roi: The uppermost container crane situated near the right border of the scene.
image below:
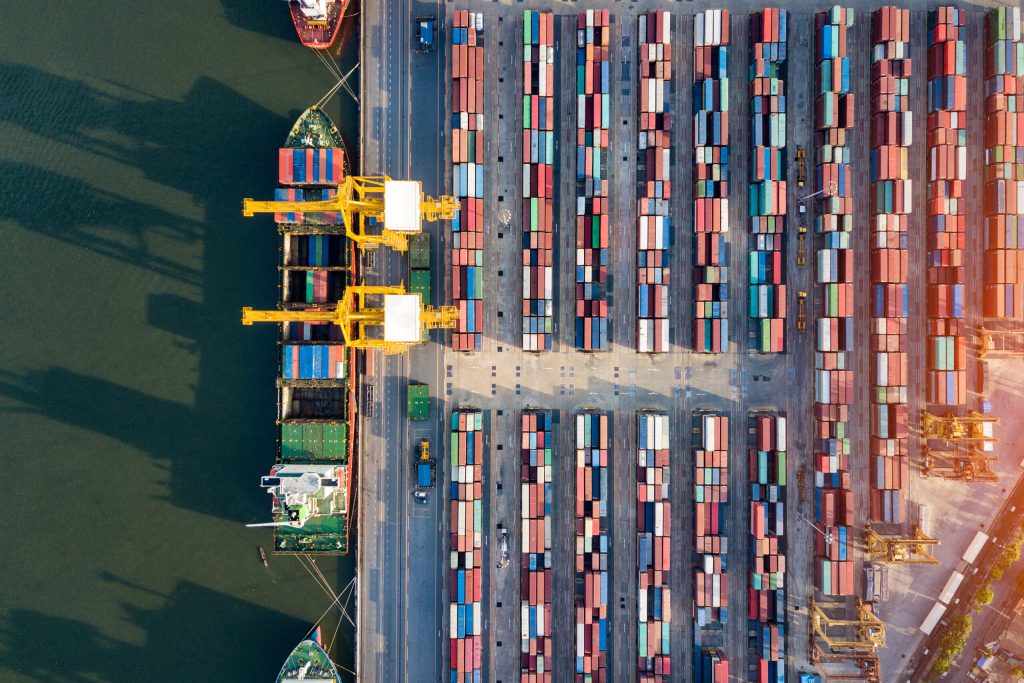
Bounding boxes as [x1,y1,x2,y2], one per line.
[980,327,1024,358]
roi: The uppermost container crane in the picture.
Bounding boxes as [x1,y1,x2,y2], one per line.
[243,174,463,258]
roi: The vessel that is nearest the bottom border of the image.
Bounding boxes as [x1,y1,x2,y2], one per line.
[277,627,342,683]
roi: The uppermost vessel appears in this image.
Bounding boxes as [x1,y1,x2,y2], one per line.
[290,0,350,48]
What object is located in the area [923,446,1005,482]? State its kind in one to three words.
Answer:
container crane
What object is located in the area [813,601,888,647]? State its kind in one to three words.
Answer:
container crane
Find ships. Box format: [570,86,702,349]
[246,106,355,554]
[277,627,342,683]
[290,0,350,48]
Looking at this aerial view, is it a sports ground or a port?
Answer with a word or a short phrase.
port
